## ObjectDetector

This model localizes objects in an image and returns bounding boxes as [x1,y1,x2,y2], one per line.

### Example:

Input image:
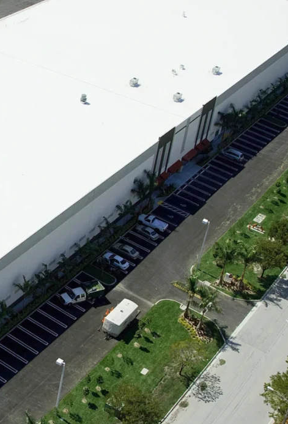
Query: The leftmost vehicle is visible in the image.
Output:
[64,276,112,304]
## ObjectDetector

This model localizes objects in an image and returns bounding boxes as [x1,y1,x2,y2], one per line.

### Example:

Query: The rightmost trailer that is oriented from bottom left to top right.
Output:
[105,299,140,338]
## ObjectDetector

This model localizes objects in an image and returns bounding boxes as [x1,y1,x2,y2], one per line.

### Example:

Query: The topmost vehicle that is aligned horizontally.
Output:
[221,148,246,161]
